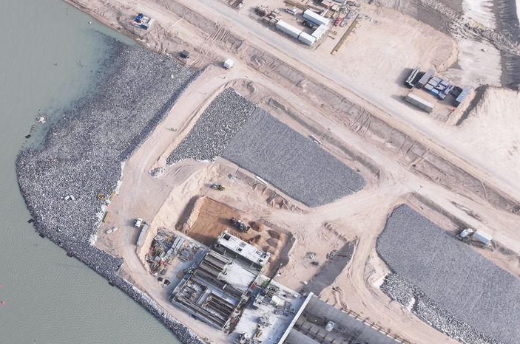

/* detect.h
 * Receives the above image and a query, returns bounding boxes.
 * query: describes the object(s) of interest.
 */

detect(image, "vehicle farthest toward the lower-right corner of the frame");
[460,226,498,246]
